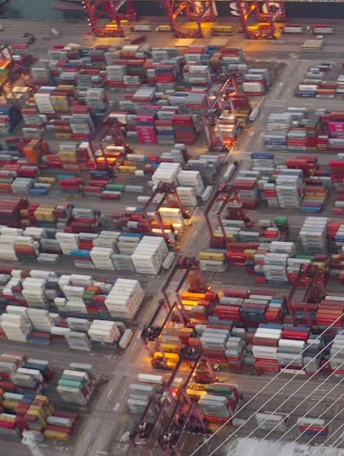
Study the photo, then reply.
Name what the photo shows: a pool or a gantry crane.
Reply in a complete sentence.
Visible in the photo is a gantry crane.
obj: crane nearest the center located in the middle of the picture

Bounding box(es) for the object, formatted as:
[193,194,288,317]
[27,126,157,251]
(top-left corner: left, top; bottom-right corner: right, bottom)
[156,191,203,250]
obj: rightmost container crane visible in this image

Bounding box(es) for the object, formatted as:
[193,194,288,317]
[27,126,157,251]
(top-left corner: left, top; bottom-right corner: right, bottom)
[283,262,327,308]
